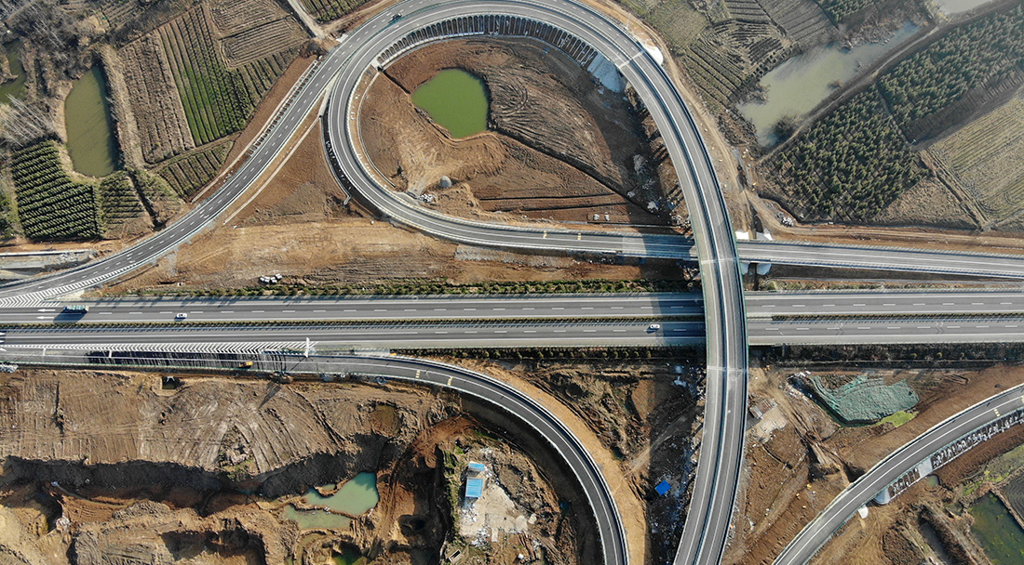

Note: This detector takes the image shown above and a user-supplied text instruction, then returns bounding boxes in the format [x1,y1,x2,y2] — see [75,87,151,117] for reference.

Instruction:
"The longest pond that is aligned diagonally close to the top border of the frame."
[738,23,920,148]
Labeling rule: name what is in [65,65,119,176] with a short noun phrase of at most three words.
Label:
pond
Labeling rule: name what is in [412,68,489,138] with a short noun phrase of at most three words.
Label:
pond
